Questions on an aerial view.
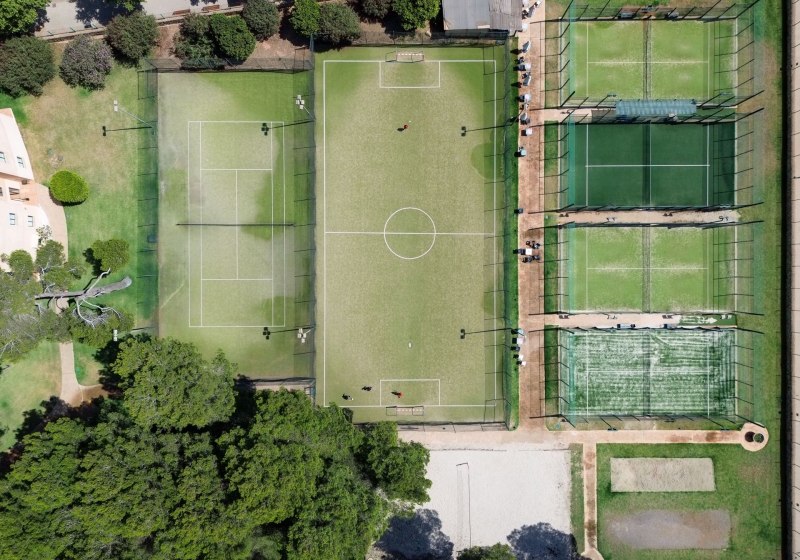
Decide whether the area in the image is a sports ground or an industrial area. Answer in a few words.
sports ground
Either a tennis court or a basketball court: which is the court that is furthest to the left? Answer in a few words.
tennis court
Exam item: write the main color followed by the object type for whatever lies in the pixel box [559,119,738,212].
green sports court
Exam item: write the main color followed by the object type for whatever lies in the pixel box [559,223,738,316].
green sports court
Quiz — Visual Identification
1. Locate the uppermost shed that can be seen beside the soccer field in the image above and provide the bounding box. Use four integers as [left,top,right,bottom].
[444,0,521,37]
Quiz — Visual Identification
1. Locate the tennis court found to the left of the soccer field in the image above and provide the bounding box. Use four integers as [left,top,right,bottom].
[158,71,316,380]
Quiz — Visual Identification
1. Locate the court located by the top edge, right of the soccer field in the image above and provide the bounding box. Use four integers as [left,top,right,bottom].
[559,17,738,109]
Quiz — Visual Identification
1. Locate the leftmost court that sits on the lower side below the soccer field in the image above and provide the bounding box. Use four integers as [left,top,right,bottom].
[368,450,571,560]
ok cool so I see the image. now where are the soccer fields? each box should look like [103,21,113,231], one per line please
[316,44,506,425]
